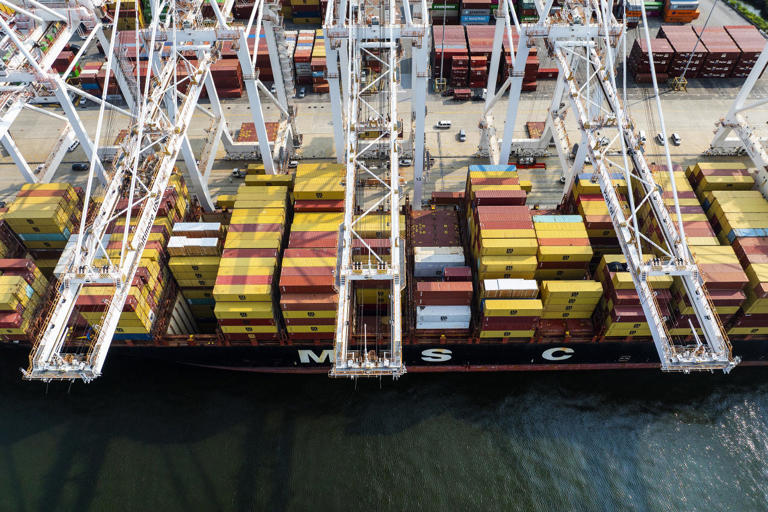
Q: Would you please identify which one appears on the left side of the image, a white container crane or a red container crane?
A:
white container crane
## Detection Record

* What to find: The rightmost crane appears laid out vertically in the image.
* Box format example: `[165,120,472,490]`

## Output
[708,41,768,166]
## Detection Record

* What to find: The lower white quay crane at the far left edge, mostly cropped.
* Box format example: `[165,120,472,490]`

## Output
[0,0,159,206]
